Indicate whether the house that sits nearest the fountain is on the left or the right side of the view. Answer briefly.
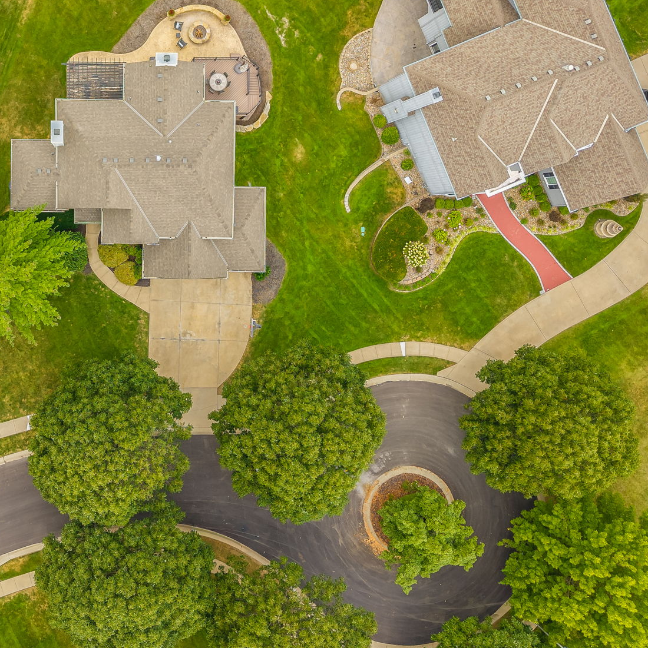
right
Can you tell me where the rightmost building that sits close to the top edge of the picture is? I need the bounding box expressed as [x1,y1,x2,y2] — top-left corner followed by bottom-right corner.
[366,0,648,214]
